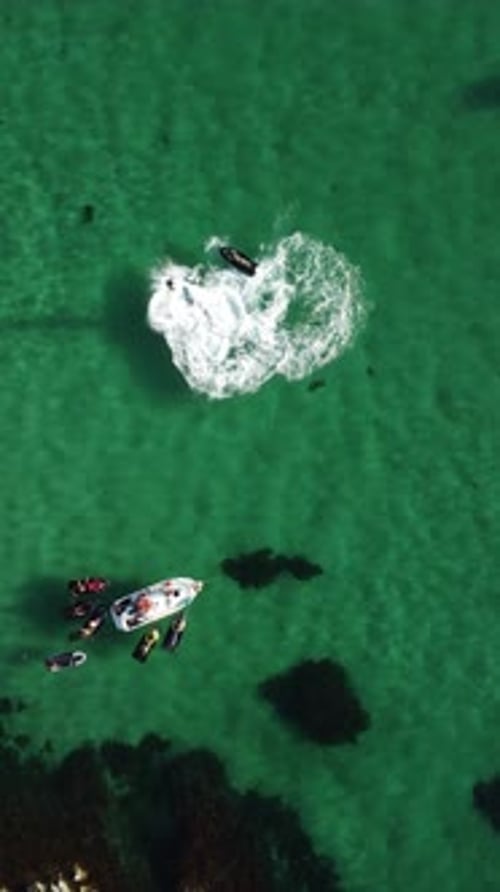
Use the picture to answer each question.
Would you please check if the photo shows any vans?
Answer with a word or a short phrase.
No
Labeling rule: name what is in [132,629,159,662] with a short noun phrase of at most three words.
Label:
vessel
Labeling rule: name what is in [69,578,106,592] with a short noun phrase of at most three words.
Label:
vessel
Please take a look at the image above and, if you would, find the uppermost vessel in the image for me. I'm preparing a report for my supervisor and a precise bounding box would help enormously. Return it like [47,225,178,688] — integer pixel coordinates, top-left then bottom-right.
[220,248,258,278]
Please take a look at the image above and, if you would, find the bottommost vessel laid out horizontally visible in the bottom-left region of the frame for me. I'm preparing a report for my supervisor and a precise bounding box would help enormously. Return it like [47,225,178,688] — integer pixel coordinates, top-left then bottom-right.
[46,652,87,670]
